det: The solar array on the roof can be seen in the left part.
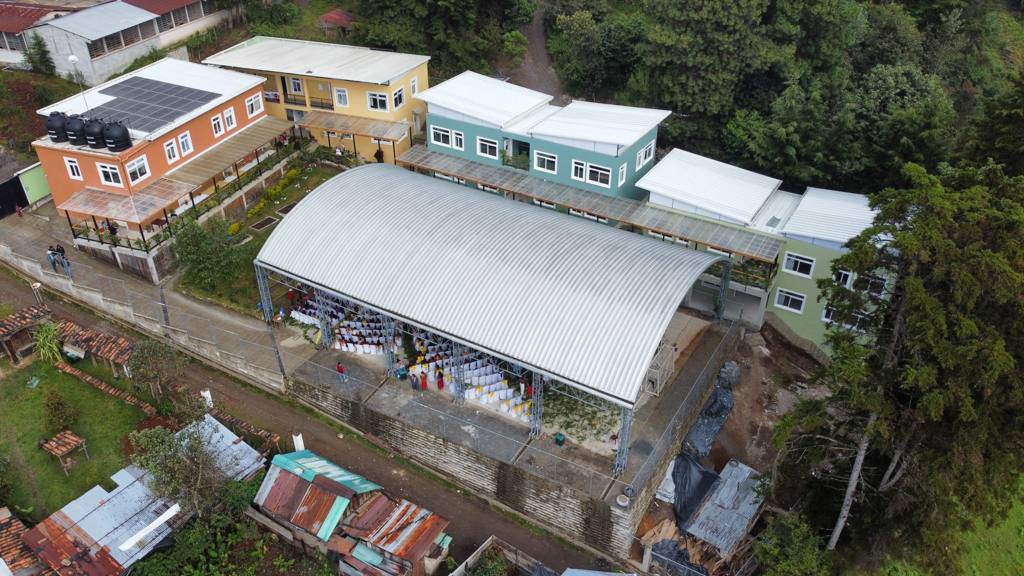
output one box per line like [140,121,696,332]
[79,77,221,132]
